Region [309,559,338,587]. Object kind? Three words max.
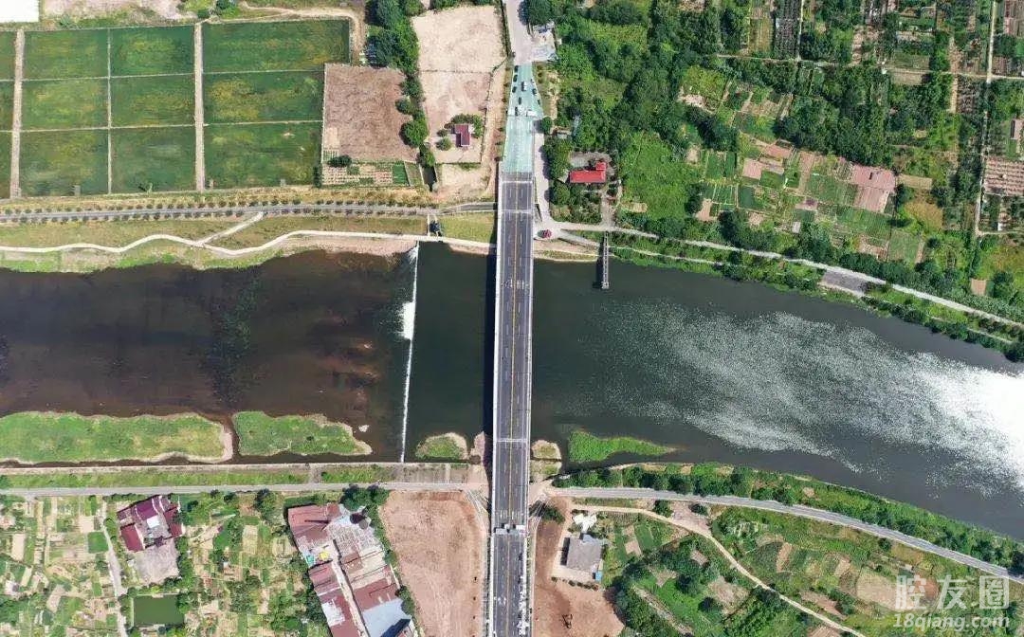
shed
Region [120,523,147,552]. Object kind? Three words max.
house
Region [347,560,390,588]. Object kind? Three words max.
shed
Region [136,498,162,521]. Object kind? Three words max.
house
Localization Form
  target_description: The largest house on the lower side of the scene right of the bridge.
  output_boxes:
[567,536,601,572]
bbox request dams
[383,243,419,463]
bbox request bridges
[490,173,534,637]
